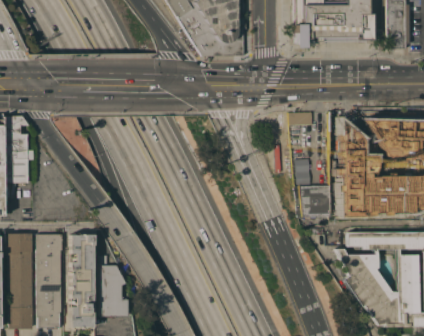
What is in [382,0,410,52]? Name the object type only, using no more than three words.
building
